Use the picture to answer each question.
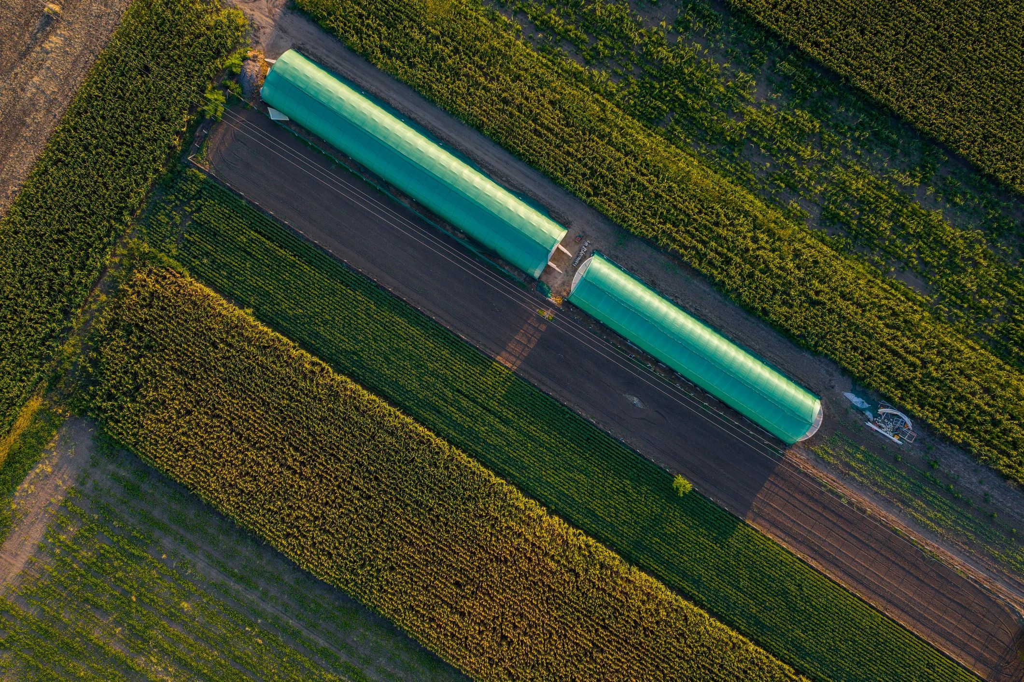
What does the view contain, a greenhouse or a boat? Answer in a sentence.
Looking from above, you can make out a greenhouse.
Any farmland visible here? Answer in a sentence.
Yes, there's farmland in this view.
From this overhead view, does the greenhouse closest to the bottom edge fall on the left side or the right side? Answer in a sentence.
It is on the right.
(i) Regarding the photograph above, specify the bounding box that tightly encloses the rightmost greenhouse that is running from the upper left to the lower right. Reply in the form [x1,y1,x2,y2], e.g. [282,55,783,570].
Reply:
[562,252,823,446]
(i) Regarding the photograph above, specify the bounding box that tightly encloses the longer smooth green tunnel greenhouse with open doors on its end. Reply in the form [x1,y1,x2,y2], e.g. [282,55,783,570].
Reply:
[258,50,568,278]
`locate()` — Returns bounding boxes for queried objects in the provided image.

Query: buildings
[562,252,823,446]
[258,50,568,278]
